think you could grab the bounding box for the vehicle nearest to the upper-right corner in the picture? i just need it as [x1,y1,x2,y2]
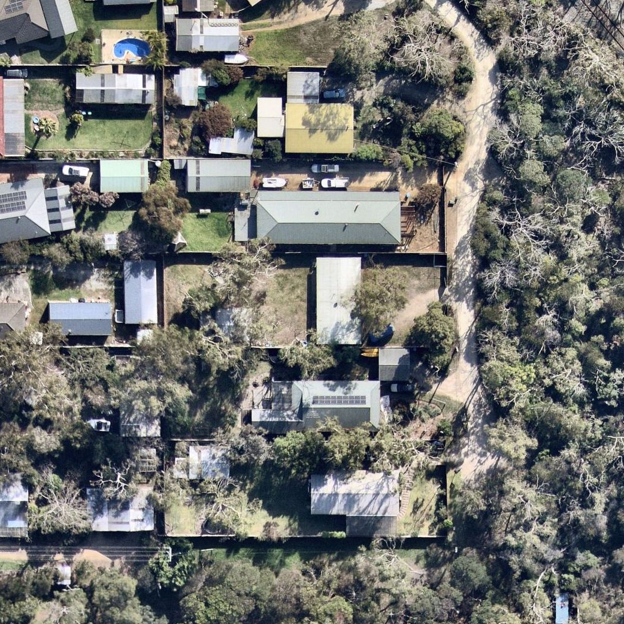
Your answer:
[322,88,346,100]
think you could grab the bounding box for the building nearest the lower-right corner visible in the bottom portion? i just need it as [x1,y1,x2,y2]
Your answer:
[311,470,400,536]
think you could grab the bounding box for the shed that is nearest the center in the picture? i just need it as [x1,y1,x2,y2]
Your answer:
[315,257,361,345]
